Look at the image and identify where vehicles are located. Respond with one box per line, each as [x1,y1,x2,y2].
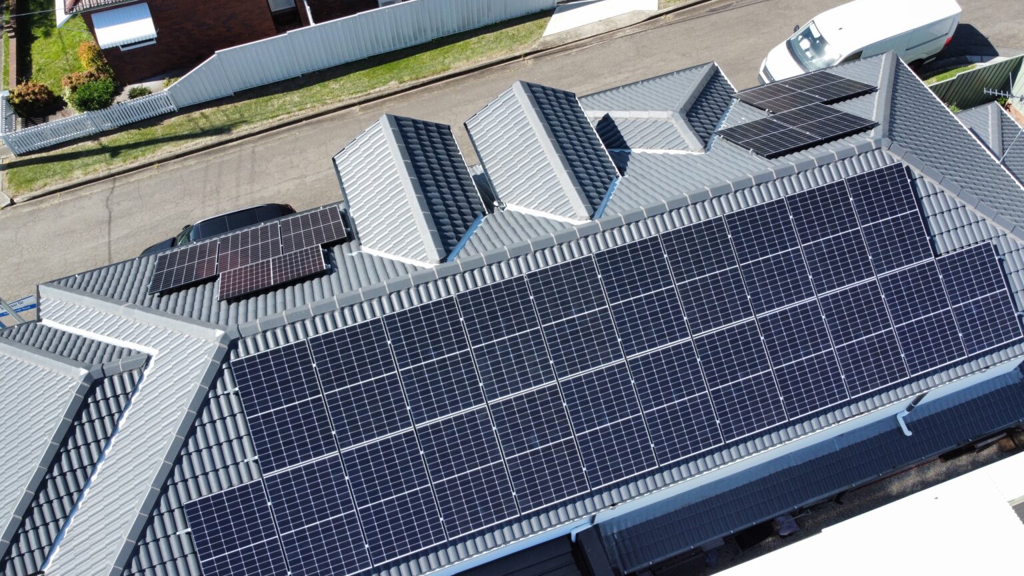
[753,0,960,84]
[120,200,300,254]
